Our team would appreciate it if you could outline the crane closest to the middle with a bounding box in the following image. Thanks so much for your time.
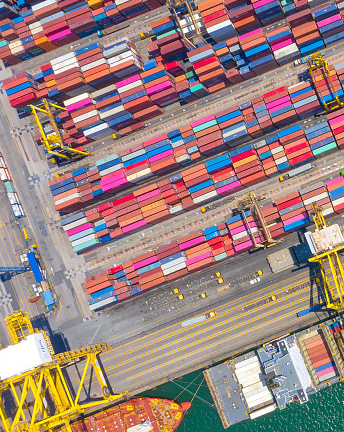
[229,191,284,252]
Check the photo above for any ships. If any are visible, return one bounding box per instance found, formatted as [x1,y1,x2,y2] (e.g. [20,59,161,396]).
[51,397,195,432]
[203,316,344,427]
